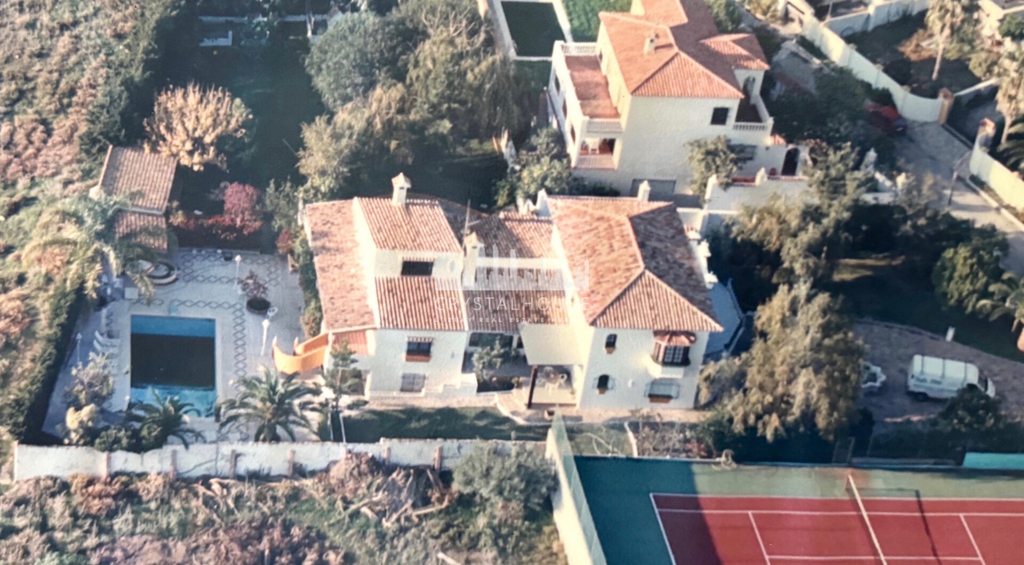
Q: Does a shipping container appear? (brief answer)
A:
No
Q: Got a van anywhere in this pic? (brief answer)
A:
Yes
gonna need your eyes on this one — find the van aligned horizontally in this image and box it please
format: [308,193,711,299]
[903,351,994,397]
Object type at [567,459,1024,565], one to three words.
tennis court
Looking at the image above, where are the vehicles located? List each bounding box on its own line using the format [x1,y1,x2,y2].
[866,99,918,131]
[903,351,994,397]
[858,357,892,390]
